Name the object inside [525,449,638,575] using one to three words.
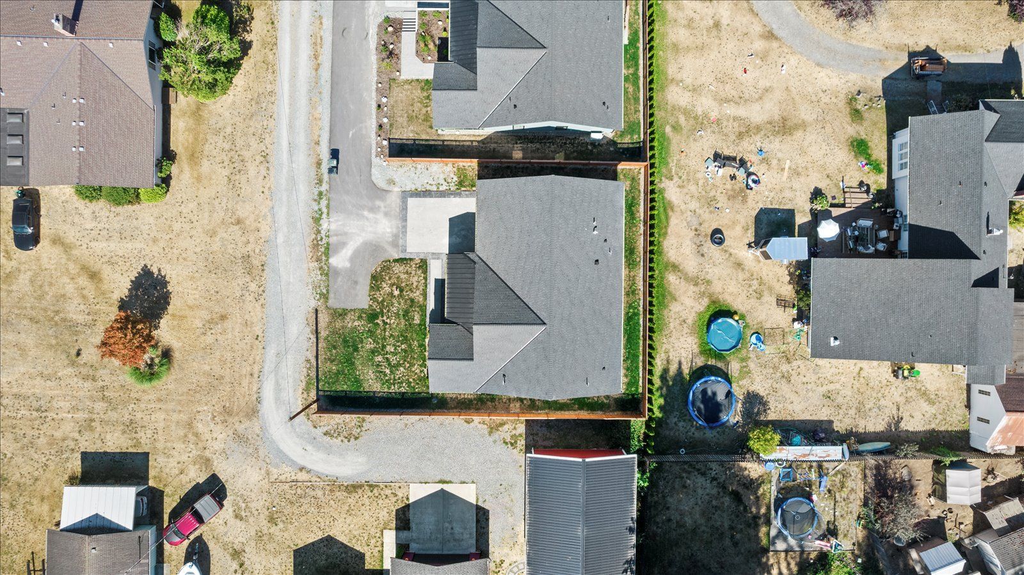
barn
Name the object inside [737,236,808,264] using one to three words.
trailer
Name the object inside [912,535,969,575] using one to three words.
shed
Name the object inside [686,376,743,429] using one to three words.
trampoline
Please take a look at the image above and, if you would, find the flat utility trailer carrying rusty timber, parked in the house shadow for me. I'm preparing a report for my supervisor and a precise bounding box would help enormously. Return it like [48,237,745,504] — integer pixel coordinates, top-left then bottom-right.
[916,50,959,80]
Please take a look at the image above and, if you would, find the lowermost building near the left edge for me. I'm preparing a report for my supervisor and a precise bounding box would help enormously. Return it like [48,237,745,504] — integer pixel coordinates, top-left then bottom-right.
[46,523,164,575]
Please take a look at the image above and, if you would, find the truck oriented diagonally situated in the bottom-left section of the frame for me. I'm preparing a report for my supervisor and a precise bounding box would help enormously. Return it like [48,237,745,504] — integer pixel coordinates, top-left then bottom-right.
[161,490,227,543]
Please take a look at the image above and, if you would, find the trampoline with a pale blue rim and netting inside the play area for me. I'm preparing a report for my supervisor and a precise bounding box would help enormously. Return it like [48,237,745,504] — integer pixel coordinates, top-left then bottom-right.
[773,493,828,548]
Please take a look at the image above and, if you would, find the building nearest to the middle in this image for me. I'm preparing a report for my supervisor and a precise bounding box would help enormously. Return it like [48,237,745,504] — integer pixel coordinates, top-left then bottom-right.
[426,174,625,399]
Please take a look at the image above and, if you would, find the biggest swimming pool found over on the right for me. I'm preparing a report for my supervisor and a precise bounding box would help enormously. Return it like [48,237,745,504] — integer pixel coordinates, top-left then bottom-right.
[707,315,746,353]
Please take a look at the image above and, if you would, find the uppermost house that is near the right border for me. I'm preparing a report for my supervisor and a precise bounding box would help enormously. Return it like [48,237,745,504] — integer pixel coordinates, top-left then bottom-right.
[801,99,1024,386]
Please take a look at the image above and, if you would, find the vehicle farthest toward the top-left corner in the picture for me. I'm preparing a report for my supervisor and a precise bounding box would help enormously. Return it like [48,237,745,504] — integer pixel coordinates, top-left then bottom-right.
[7,192,40,250]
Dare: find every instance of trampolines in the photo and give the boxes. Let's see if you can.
[773,493,828,548]
[686,376,743,429]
